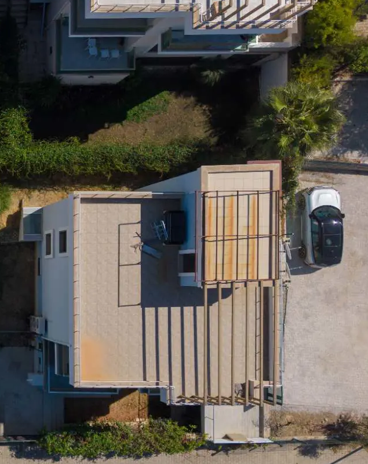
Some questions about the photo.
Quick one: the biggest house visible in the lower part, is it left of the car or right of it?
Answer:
to the left of it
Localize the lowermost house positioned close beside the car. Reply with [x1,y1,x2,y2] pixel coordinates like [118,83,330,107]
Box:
[8,161,282,444]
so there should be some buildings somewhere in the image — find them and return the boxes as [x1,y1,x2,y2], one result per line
[29,0,318,86]
[8,161,282,444]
